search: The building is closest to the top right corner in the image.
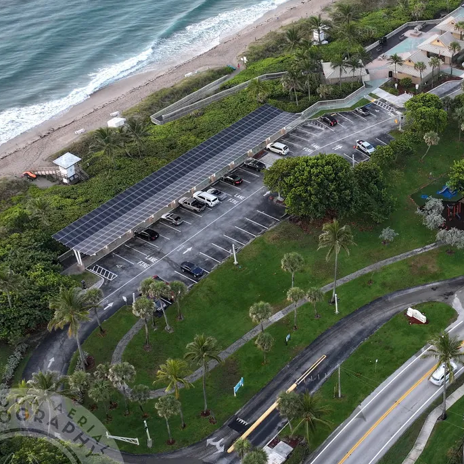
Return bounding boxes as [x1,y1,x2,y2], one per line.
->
[434,15,464,40]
